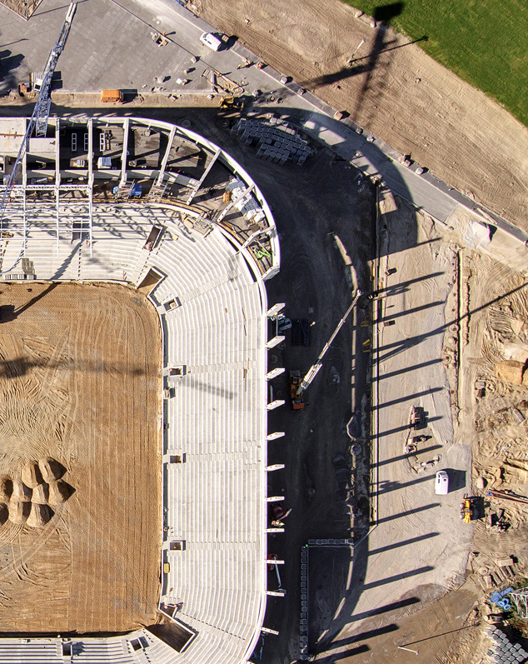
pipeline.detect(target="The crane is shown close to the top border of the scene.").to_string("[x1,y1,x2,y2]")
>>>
[0,1,77,213]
